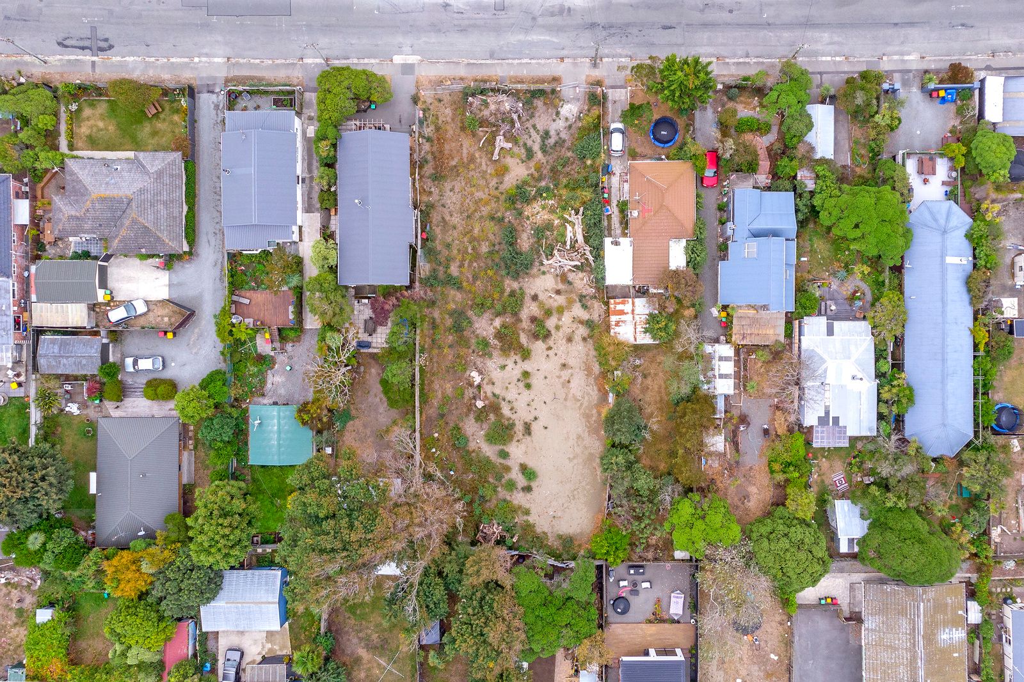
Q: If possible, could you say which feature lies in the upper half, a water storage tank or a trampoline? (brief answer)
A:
trampoline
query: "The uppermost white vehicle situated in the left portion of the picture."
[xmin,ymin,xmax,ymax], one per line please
[105,297,147,326]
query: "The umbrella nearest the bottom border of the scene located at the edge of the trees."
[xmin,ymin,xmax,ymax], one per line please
[669,591,684,620]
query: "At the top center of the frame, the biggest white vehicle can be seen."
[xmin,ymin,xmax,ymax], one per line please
[608,121,626,156]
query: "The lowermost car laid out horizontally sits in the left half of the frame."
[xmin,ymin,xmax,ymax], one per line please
[123,355,163,372]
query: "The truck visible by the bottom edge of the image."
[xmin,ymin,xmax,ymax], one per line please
[220,647,242,682]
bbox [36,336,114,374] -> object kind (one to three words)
shed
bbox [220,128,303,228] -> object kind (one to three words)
house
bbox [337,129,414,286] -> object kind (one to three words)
house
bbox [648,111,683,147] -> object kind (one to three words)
trampoline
